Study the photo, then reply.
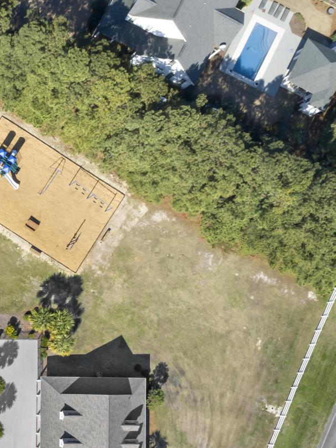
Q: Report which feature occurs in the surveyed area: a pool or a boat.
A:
pool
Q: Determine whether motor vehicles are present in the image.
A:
No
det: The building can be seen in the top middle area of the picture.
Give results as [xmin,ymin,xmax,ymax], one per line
[92,0,251,91]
